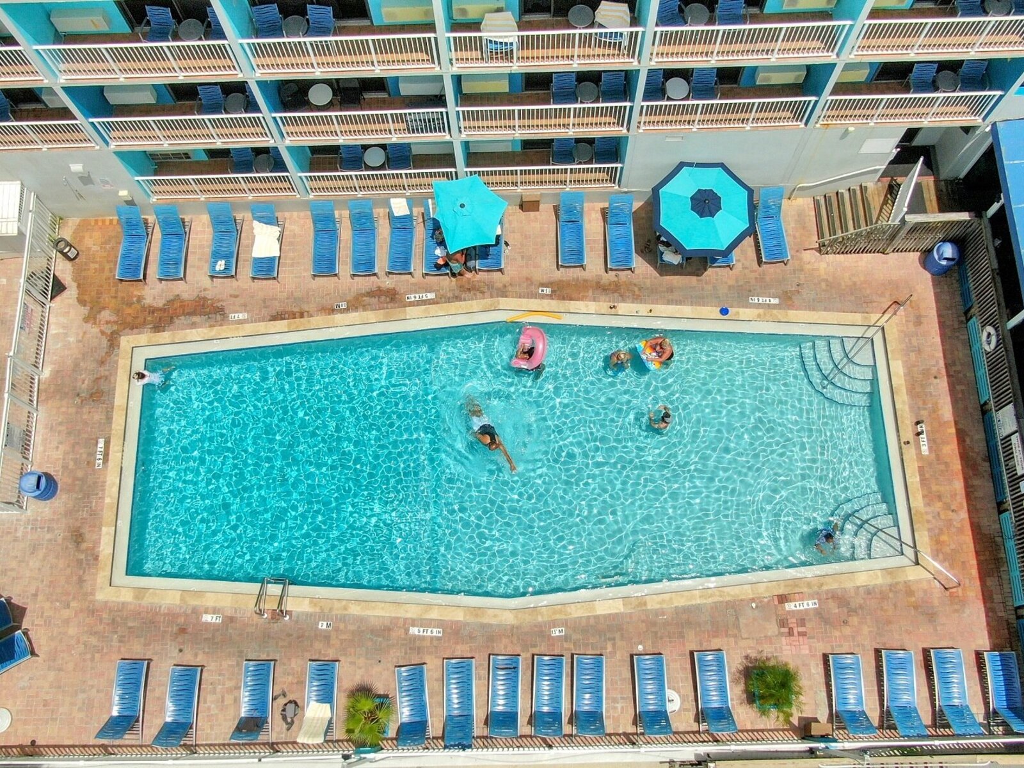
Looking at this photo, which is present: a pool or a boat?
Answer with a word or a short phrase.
pool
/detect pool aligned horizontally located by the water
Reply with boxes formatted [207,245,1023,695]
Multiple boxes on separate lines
[95,298,935,623]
